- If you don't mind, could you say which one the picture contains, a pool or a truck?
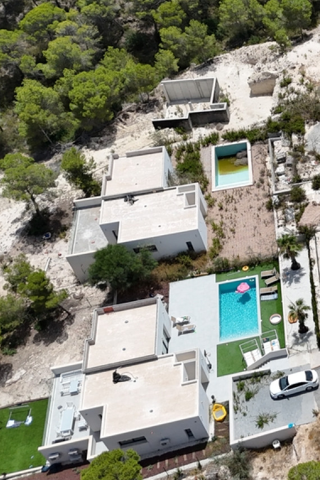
pool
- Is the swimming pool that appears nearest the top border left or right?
right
